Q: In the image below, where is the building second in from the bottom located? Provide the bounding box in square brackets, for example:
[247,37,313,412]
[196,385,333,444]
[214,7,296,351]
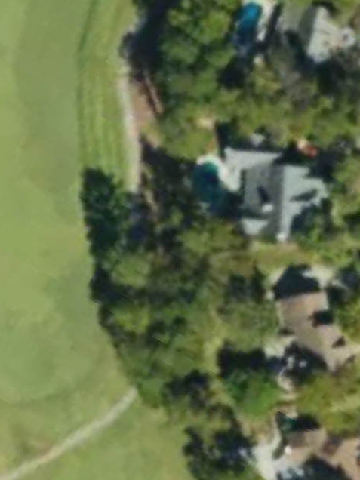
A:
[275,288,360,376]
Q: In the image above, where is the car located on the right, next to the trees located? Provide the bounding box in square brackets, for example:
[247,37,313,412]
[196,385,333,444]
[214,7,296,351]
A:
[303,144,321,157]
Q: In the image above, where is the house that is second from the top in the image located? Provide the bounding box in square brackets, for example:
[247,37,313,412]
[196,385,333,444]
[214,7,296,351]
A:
[223,145,334,246]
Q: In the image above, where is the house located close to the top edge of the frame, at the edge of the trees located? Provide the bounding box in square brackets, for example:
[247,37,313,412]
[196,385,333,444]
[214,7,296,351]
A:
[267,0,360,70]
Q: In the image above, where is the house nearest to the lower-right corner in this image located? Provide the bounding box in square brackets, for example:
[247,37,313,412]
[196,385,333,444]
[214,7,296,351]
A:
[280,423,360,480]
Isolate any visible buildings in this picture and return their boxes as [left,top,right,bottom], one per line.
[280,423,360,480]
[223,145,334,246]
[275,288,360,376]
[267,0,360,70]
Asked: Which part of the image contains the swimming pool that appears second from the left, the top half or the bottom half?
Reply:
top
